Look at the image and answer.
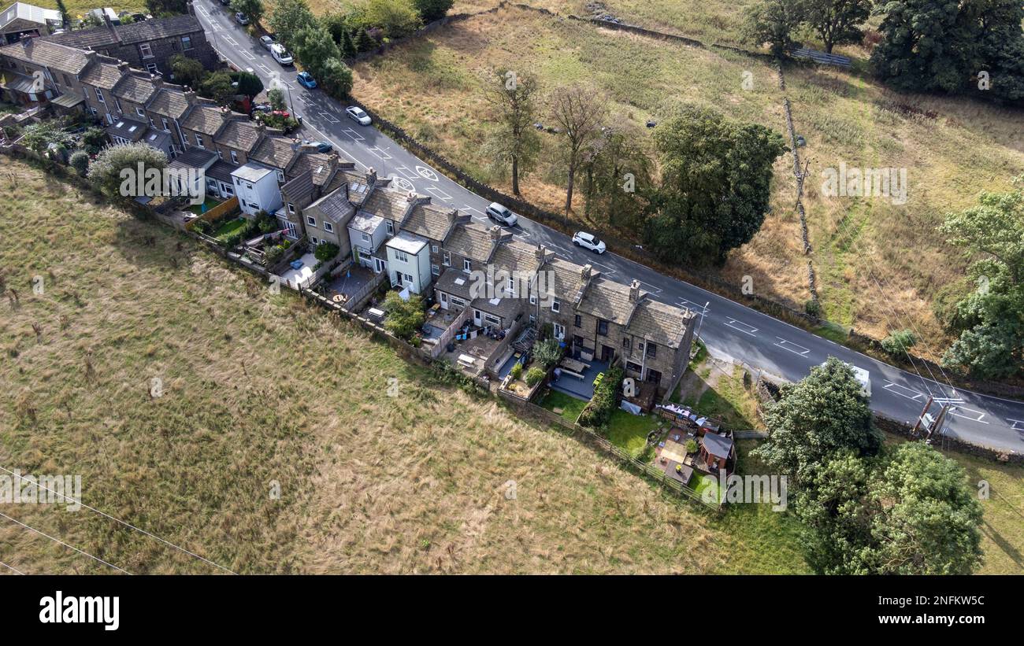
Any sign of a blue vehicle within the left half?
Yes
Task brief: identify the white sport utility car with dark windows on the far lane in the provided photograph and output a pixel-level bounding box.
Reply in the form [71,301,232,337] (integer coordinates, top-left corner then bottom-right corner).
[572,233,606,258]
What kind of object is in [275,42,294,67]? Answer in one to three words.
vehicle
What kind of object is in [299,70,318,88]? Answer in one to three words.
car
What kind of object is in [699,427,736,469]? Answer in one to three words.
shed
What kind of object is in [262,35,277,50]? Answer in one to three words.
car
